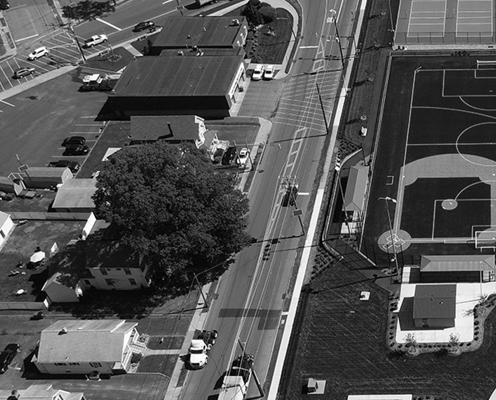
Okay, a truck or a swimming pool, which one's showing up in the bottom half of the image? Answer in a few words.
truck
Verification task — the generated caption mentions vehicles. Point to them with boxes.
[187,331,222,373]
[64,146,88,156]
[263,64,276,81]
[218,357,253,400]
[134,22,154,32]
[13,67,36,78]
[82,36,109,47]
[28,45,50,59]
[61,135,86,147]
[223,146,238,164]
[236,148,251,164]
[252,64,266,81]
[49,158,81,171]
[0,345,20,374]
[77,75,110,91]
[0,0,10,8]
[280,185,299,207]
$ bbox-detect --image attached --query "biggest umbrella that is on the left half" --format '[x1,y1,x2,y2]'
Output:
[29,252,46,265]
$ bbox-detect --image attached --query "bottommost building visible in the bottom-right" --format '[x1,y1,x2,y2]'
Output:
[414,286,456,327]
